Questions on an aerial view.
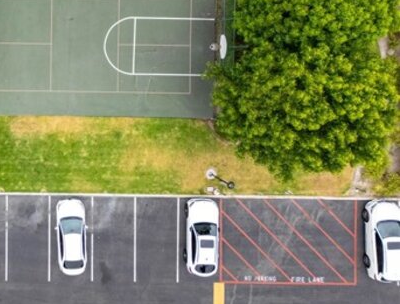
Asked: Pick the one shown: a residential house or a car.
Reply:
car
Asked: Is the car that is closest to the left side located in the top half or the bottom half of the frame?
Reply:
bottom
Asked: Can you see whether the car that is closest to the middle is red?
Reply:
No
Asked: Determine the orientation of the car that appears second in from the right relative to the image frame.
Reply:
up and down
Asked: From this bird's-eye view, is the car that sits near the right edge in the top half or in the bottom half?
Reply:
bottom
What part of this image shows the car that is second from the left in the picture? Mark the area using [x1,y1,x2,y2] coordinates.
[183,198,224,278]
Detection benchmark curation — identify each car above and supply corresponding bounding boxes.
[183,198,224,278]
[361,196,400,283]
[53,197,90,279]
